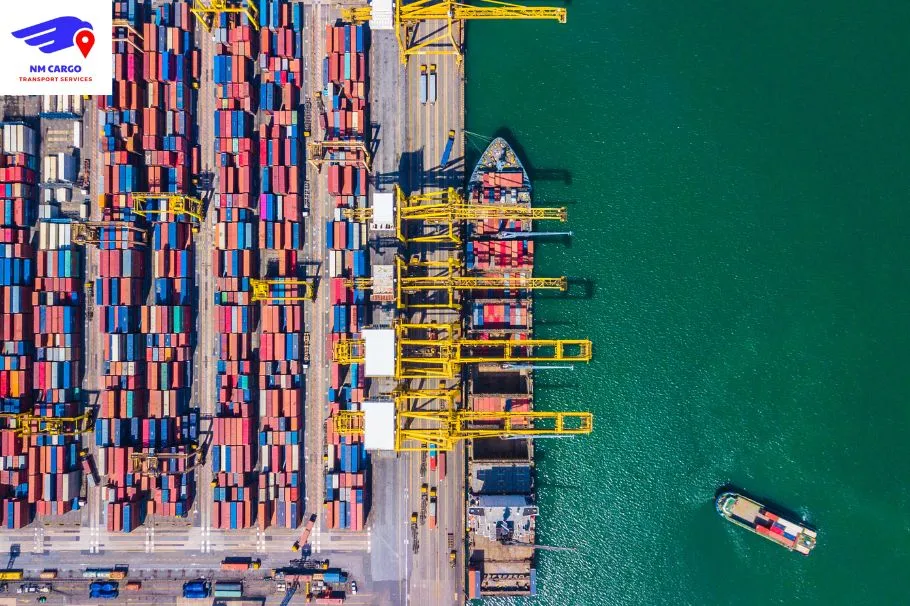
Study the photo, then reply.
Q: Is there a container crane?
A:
Yes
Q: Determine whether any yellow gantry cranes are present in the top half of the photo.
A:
Yes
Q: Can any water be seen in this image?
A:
Yes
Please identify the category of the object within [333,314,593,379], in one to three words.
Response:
container crane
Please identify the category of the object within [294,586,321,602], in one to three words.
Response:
work vehicle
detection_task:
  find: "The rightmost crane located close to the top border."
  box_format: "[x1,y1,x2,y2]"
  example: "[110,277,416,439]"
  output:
[345,0,567,79]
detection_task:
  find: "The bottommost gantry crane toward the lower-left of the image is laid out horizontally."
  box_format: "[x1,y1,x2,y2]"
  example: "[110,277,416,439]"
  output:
[132,443,204,475]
